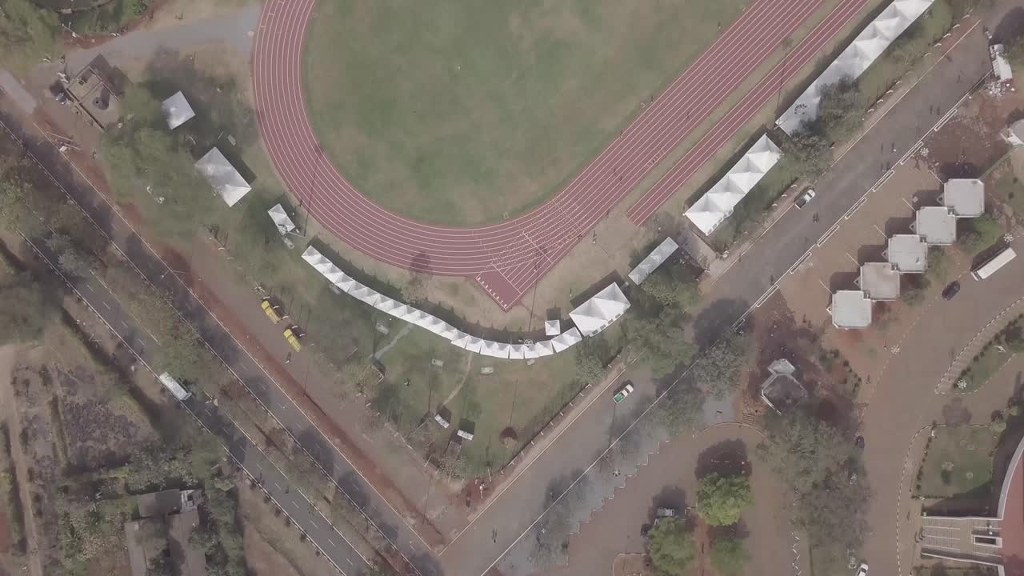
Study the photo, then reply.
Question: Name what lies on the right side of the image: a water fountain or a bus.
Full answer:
You can see a bus on the right side of the image.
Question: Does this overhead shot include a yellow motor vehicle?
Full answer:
Yes, the image includes a yellow motor vehicle.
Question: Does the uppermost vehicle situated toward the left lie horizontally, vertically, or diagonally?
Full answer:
From this overhead view, the uppermost vehicle situated toward the left appears to run diagonally.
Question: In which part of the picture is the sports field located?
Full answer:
The sports field is in the top part of the image.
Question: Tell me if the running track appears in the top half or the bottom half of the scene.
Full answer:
Seen from above, the running track lies in the top half of the view.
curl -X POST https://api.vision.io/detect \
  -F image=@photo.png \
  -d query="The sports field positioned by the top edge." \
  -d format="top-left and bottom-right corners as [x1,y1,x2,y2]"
[302,0,754,226]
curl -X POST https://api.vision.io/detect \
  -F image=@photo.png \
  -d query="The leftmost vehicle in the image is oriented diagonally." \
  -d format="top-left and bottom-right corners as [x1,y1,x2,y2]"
[159,371,191,402]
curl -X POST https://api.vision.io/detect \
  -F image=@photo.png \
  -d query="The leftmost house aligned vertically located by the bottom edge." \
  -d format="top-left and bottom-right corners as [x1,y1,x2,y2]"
[124,520,152,576]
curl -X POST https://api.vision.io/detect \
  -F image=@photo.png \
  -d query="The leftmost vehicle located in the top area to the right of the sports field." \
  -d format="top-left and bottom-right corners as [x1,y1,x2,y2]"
[794,188,816,210]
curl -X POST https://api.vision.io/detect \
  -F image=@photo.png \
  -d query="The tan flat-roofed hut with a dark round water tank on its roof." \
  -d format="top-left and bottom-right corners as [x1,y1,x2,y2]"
[66,65,128,135]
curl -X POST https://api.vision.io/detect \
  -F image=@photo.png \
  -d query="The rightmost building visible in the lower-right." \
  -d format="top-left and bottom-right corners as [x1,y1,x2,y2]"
[922,407,1024,576]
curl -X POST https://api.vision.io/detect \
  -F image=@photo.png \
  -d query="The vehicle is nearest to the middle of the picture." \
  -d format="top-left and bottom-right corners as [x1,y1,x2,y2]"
[612,383,634,405]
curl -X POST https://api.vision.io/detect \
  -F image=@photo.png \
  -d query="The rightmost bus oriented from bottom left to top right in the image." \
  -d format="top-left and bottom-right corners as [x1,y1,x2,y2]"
[972,248,1018,282]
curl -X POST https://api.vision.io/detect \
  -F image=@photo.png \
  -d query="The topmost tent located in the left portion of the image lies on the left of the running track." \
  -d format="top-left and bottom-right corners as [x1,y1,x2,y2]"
[161,92,200,128]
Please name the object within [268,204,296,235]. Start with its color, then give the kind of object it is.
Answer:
white tent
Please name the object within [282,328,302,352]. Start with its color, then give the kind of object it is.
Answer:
yellow vehicle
